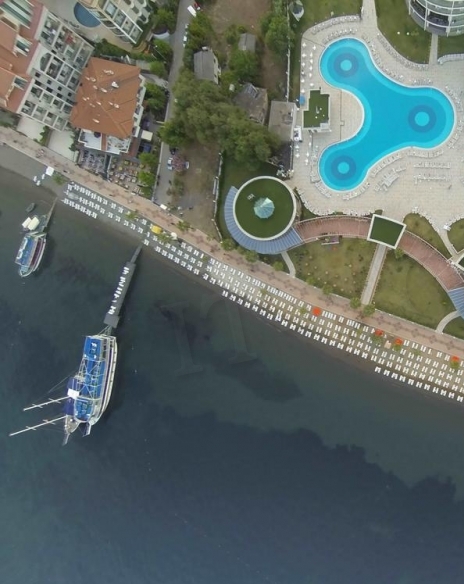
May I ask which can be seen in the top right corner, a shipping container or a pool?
pool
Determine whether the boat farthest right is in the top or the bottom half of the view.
bottom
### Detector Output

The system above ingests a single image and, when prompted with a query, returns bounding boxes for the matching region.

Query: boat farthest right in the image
[75,325,123,444]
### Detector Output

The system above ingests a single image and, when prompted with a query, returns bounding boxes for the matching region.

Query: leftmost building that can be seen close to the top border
[0,0,94,135]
